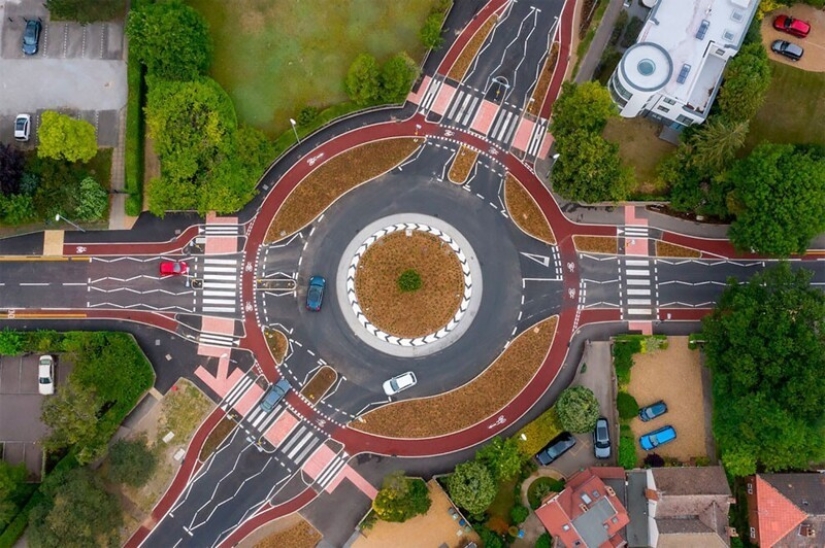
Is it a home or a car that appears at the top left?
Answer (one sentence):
Visible at the top left is a car.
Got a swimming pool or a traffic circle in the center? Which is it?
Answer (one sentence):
What appears in the center is a traffic circle.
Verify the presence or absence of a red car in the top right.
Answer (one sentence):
Yes, I can see a red car in the top right.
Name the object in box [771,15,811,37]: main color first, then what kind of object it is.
red car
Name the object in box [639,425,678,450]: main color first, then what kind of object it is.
blue car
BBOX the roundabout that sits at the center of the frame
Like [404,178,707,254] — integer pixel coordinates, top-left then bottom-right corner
[239,120,587,457]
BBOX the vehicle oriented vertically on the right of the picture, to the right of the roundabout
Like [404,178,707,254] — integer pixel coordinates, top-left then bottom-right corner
[592,417,612,458]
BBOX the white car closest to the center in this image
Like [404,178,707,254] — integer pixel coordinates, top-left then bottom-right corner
[381,372,418,395]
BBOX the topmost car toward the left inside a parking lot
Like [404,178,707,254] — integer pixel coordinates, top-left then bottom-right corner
[21,20,43,56]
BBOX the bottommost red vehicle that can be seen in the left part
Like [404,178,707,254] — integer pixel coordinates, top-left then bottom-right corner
[159,259,189,276]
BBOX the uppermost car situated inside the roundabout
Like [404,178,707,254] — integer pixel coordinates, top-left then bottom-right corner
[306,276,325,311]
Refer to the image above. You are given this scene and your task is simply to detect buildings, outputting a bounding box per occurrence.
[531,469,631,548]
[641,467,739,548]
[744,473,825,548]
[606,0,764,135]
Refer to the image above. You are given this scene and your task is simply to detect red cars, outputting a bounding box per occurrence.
[771,15,811,37]
[159,259,189,276]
